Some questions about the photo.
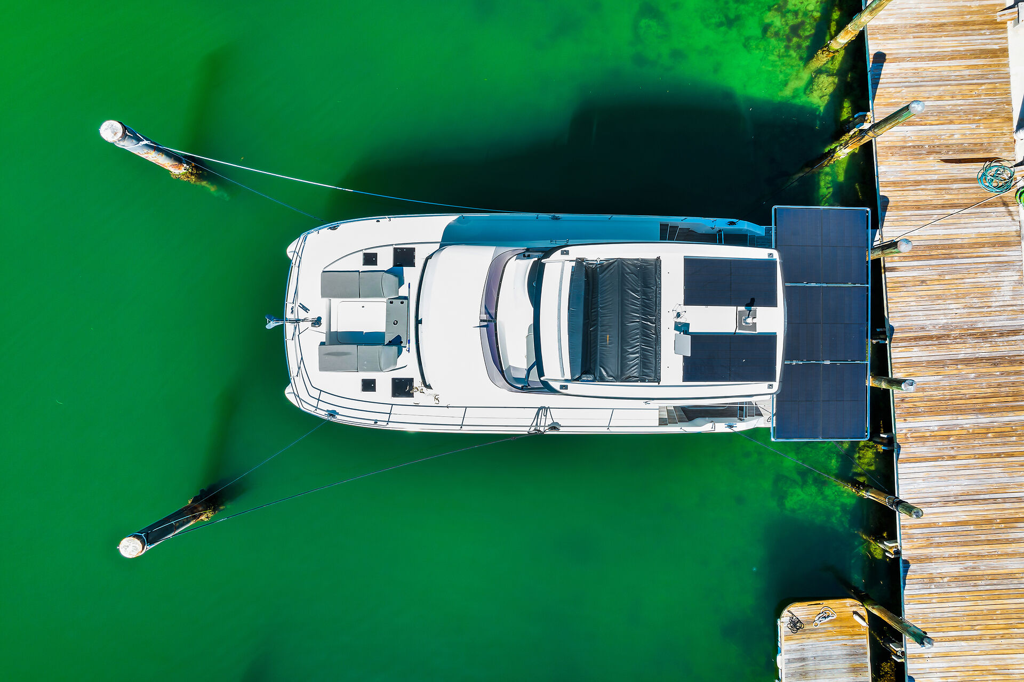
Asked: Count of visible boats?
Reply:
1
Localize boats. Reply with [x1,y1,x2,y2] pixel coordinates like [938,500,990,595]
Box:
[265,206,871,441]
